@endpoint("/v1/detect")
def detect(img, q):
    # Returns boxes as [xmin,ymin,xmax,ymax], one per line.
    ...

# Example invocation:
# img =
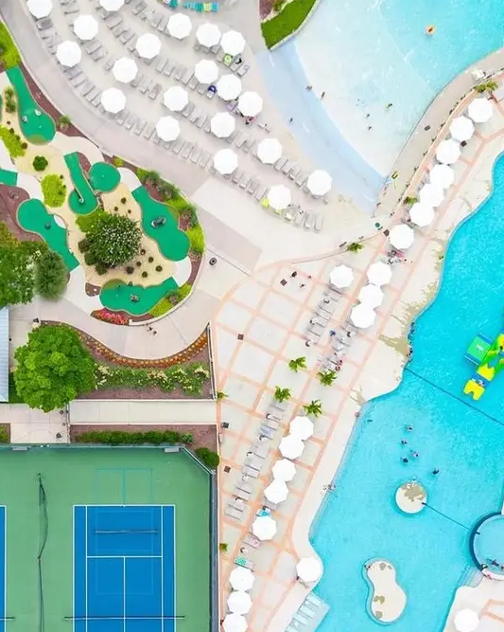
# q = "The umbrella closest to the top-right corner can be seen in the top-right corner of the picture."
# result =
[466,97,492,123]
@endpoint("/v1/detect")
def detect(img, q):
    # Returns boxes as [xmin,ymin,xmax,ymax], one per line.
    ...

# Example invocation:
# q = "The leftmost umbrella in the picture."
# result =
[26,0,52,18]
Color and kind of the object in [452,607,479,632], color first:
white umbrella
